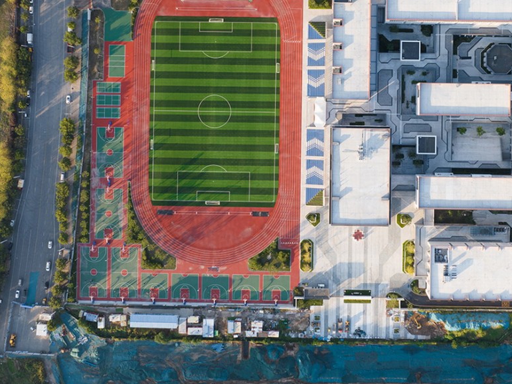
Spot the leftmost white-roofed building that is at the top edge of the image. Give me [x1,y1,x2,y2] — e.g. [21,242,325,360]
[332,0,372,101]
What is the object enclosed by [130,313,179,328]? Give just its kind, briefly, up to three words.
shed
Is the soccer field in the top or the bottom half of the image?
top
